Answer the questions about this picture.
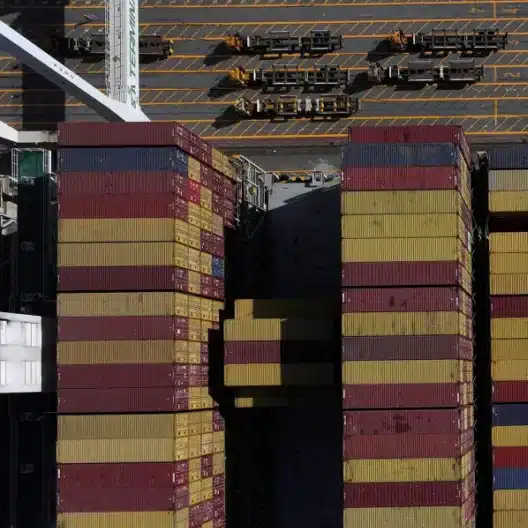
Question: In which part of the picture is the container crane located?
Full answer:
Look in the top left portion of the view to spot the container crane.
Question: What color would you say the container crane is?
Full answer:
The container crane looks white in the image.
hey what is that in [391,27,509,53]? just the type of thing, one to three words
truck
